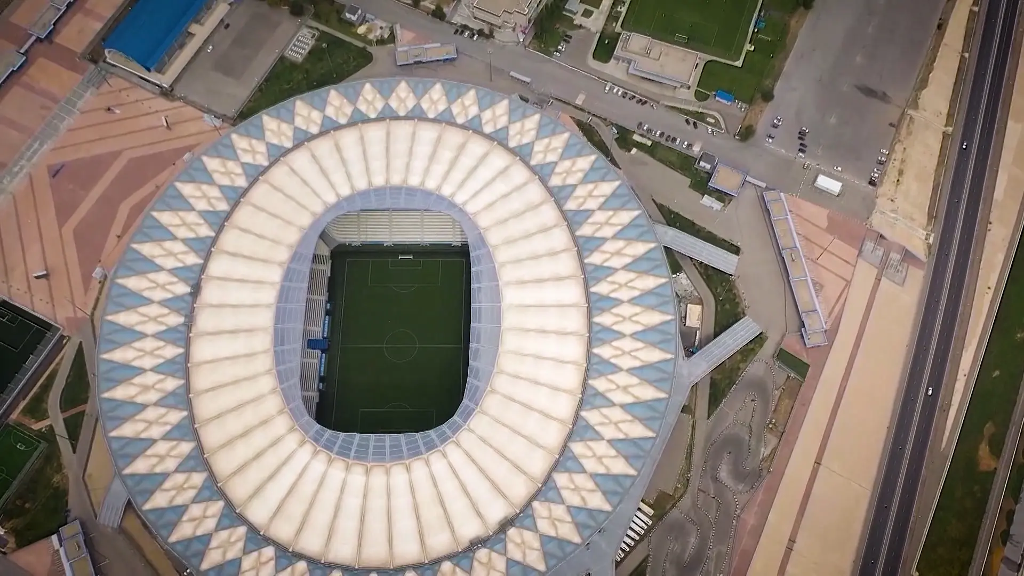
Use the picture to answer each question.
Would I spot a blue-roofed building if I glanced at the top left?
Yes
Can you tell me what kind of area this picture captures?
sports ground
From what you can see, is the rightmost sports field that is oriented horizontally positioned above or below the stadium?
above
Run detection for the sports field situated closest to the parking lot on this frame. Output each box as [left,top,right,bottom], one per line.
[616,0,761,65]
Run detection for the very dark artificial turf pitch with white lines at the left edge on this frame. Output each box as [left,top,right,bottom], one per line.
[0,296,62,417]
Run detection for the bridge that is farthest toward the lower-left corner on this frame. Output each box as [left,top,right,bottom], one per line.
[96,472,129,528]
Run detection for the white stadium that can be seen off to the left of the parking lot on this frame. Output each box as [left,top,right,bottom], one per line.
[95,79,692,576]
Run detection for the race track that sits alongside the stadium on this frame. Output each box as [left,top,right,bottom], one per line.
[647,358,777,576]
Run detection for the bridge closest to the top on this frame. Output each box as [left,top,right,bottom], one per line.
[653,222,740,275]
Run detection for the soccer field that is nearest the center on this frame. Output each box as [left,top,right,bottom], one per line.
[318,245,474,433]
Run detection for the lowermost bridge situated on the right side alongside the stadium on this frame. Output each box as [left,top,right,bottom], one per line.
[688,316,763,385]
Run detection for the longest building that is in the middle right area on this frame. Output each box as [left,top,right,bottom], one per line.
[761,190,828,351]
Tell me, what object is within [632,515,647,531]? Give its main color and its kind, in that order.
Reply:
white vehicle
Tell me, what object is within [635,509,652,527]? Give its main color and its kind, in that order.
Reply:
white vehicle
